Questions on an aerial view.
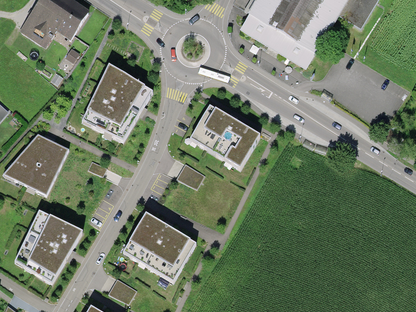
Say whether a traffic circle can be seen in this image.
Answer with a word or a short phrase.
Yes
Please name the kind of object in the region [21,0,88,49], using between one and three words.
house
